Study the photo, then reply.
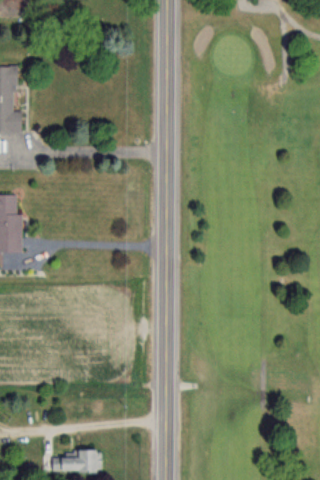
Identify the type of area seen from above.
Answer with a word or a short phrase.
golf course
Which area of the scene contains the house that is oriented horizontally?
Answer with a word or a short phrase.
bottom left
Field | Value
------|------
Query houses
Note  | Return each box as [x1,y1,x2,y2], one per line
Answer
[52,451,104,475]
[0,194,24,268]
[0,66,22,134]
